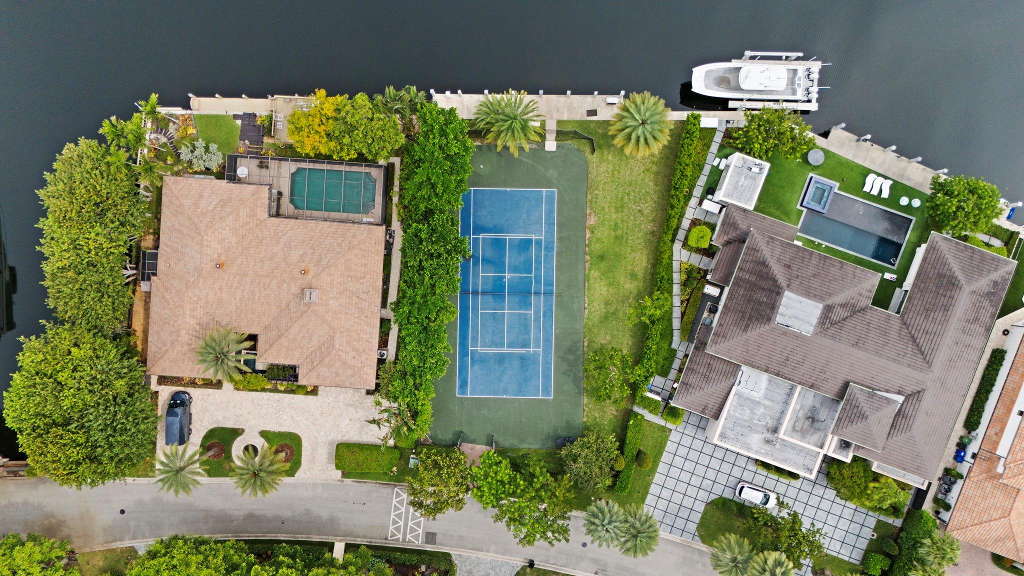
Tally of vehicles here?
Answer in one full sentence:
My tally gives 2 vehicles in this view.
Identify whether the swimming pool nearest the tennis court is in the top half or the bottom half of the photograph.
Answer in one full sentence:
The swimming pool nearest the tennis court sits in the top half of the picture.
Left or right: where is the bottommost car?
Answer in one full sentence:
It is on the right.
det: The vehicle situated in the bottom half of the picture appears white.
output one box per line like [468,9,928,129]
[735,483,781,511]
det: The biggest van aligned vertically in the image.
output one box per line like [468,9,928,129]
[162,392,191,449]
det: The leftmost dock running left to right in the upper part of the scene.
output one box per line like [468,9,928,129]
[189,93,274,112]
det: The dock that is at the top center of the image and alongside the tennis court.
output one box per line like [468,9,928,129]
[430,89,624,120]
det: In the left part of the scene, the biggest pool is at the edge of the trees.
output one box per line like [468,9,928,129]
[286,165,379,217]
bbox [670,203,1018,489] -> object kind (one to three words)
house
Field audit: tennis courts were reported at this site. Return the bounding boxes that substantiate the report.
[430,144,588,448]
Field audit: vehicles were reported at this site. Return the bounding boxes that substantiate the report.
[735,483,781,511]
[162,392,191,449]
